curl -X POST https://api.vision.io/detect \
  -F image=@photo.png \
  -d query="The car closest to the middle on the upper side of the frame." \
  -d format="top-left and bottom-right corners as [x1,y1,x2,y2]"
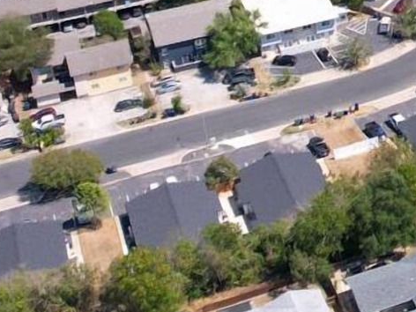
[157,107,183,119]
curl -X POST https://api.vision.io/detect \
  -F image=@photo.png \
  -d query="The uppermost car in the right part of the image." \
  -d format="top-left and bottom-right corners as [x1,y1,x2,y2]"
[394,0,408,12]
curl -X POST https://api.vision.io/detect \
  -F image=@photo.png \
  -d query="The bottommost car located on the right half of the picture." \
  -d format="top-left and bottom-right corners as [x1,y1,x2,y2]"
[309,137,327,155]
